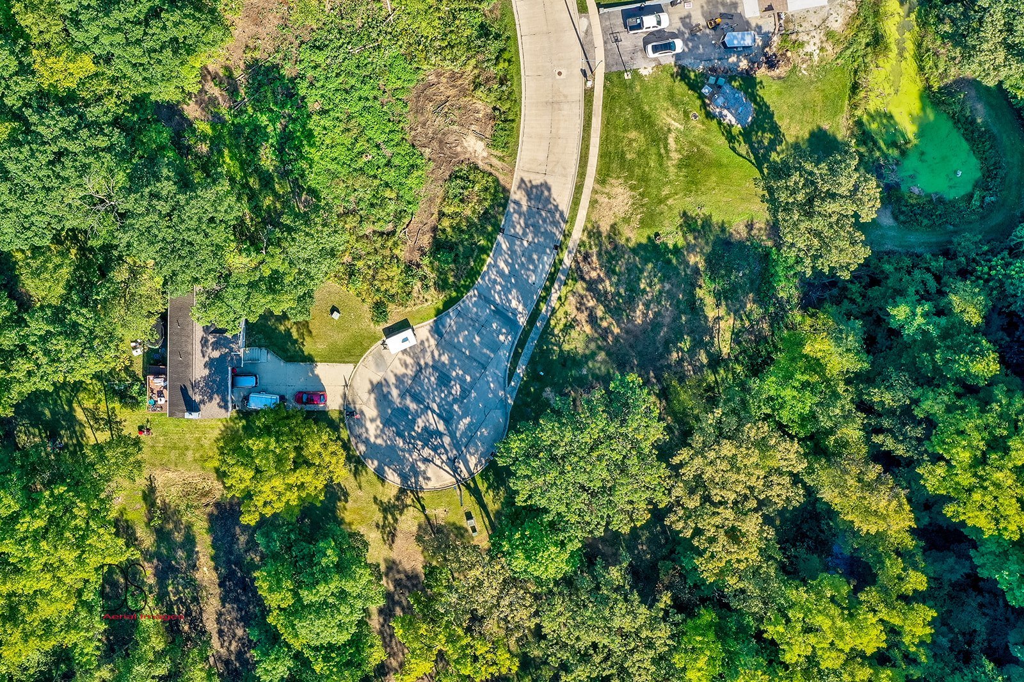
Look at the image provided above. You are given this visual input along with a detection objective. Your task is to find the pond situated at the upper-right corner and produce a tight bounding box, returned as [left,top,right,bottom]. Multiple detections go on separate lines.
[867,0,980,195]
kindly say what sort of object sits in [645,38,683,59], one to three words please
car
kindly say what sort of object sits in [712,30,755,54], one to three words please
trailer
